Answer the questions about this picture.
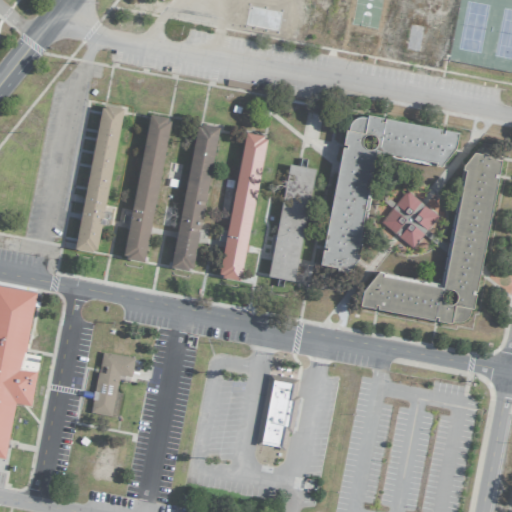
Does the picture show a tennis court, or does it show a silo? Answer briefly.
tennis court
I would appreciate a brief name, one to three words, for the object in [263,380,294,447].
building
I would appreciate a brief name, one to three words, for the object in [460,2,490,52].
tennis court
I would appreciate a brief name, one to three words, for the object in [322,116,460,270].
building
